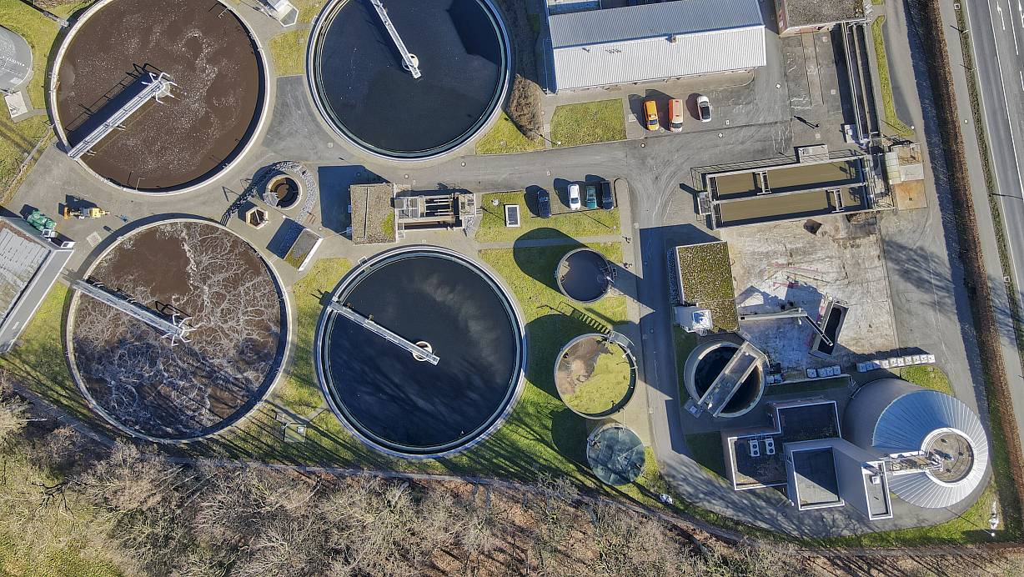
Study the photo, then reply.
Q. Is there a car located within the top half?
Yes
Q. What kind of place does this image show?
industrial area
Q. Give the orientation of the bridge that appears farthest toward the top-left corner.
diagonally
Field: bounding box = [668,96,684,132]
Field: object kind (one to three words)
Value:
vehicle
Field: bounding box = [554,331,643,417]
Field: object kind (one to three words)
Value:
storage tank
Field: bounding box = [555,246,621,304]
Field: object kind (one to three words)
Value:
storage tank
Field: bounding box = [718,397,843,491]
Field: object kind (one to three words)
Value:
building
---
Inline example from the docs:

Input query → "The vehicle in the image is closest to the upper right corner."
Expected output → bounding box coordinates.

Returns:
[696,93,713,122]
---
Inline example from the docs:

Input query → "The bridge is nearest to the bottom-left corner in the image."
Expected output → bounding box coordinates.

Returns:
[70,281,188,341]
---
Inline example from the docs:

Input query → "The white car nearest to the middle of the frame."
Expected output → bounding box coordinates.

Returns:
[568,183,582,210]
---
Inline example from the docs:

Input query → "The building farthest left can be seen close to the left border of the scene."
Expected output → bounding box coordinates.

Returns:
[0,224,83,363]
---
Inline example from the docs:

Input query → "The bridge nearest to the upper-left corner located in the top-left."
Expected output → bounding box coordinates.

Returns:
[65,77,168,160]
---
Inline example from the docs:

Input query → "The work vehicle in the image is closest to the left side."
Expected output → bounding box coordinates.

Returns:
[64,206,109,219]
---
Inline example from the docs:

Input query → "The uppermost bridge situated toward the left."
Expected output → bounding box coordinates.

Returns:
[370,0,421,81]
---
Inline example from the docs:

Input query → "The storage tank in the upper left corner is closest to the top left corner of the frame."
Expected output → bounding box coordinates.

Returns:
[0,22,38,101]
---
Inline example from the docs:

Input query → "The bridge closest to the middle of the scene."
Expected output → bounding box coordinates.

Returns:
[321,297,440,365]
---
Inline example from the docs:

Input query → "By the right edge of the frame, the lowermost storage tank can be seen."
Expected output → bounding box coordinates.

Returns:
[842,380,995,508]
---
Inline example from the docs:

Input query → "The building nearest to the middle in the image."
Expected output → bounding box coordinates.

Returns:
[342,183,402,245]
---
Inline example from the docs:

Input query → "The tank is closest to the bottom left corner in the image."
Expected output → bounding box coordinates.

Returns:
[55,218,292,442]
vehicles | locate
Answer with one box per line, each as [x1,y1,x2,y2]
[64,206,109,219]
[668,96,684,132]
[600,179,616,210]
[696,93,713,122]
[568,183,582,210]
[536,188,551,217]
[644,97,661,130]
[585,184,599,209]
